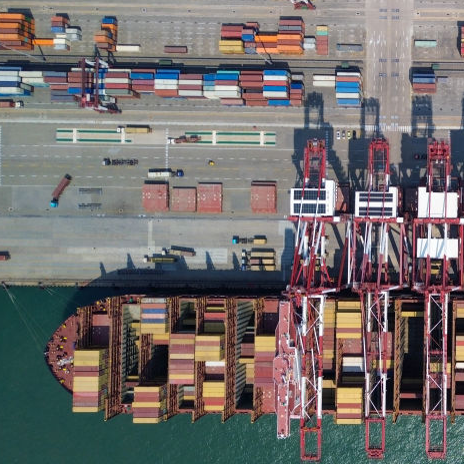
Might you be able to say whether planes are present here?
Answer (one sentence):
No, the picture doesn't show any plane.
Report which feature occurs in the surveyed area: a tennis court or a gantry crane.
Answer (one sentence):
Looking from above, you can make out a gantry crane.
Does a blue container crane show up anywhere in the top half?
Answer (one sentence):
No, in the top half there is no blue container crane.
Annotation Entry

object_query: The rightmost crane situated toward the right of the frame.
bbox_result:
[411,137,464,460]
